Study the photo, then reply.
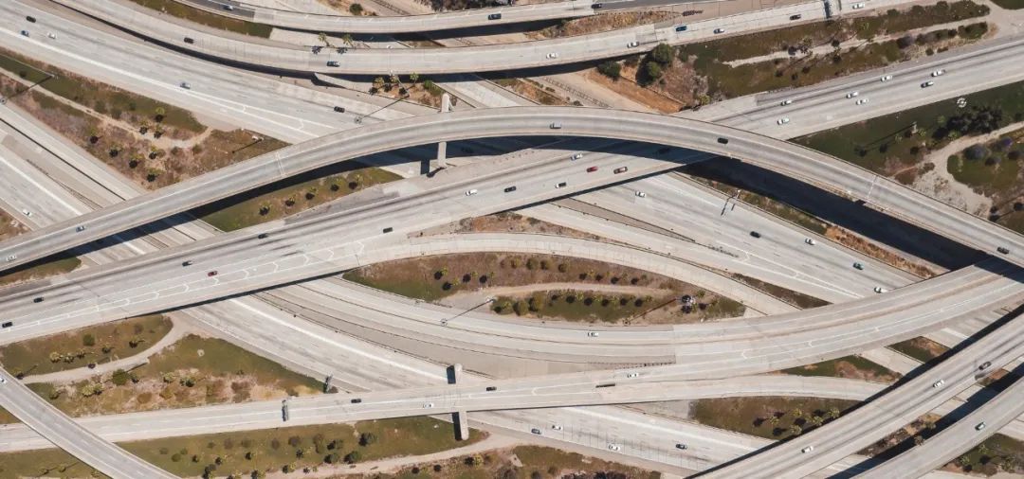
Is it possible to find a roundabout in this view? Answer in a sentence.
No, this view has no roundabout in it.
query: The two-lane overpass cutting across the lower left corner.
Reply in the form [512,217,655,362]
[0,364,181,479]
